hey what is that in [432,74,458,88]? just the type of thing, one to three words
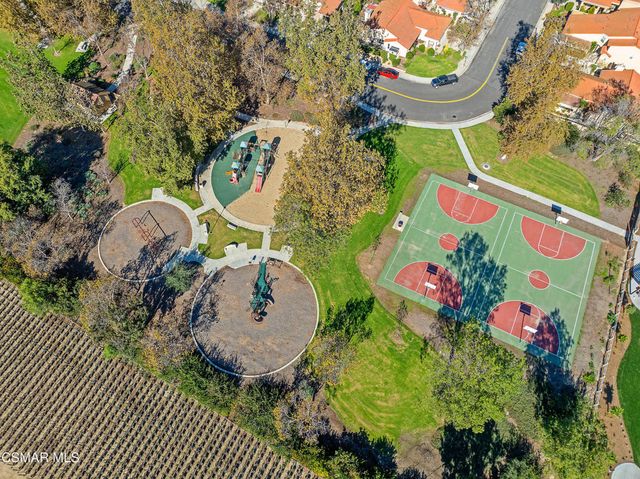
vehicle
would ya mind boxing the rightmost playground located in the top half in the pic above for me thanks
[211,127,332,224]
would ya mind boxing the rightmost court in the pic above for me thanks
[470,206,601,372]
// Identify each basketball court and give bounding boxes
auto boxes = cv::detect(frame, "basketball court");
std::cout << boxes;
[378,174,512,326]
[470,206,601,372]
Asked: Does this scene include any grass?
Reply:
Yes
